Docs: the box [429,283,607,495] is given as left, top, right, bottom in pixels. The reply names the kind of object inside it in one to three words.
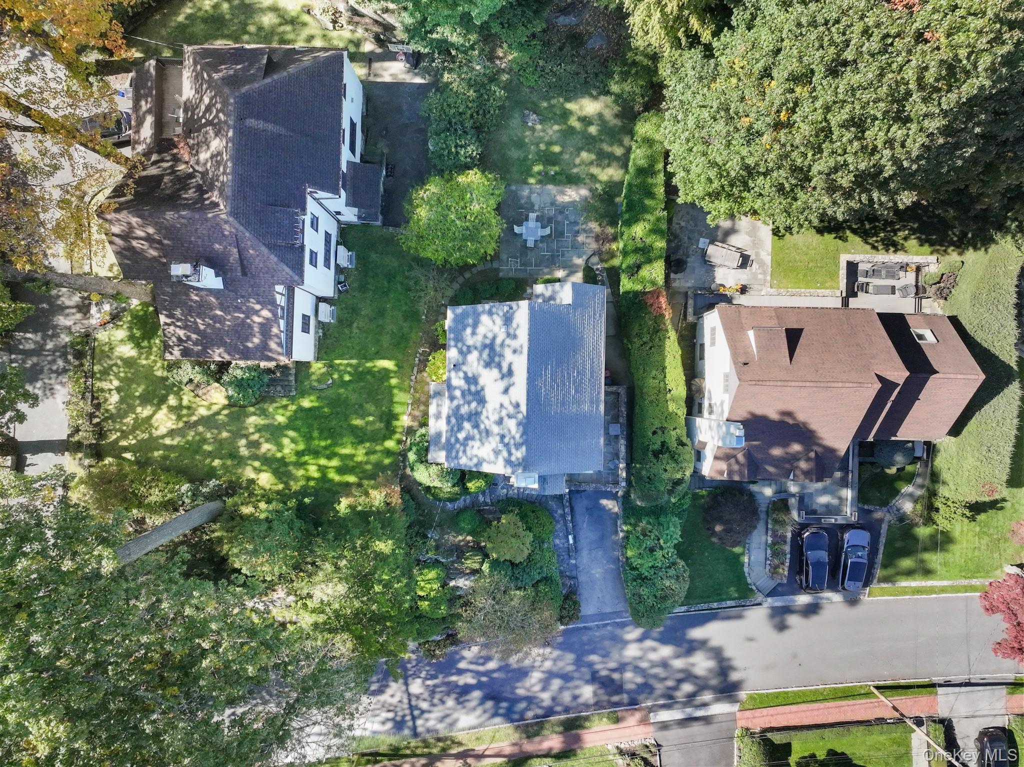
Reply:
house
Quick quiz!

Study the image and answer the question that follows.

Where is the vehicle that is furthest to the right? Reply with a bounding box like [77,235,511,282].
[969,726,1010,767]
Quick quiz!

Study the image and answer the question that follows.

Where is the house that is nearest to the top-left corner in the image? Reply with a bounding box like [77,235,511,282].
[99,44,388,360]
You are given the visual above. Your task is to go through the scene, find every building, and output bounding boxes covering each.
[686,304,984,484]
[429,283,607,495]
[99,44,388,360]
